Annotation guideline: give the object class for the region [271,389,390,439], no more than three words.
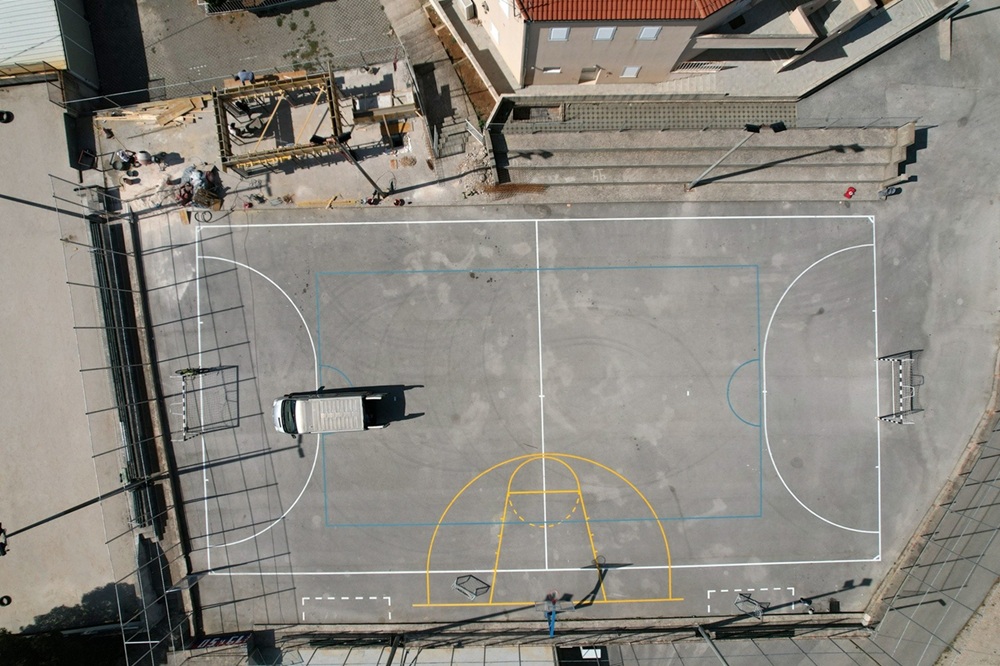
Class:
van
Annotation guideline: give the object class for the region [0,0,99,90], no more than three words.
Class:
building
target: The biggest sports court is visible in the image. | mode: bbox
[192,211,884,620]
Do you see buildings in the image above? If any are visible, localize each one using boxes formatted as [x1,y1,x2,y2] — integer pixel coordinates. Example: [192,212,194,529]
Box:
[471,0,802,94]
[0,0,99,90]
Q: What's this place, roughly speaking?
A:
sports ground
